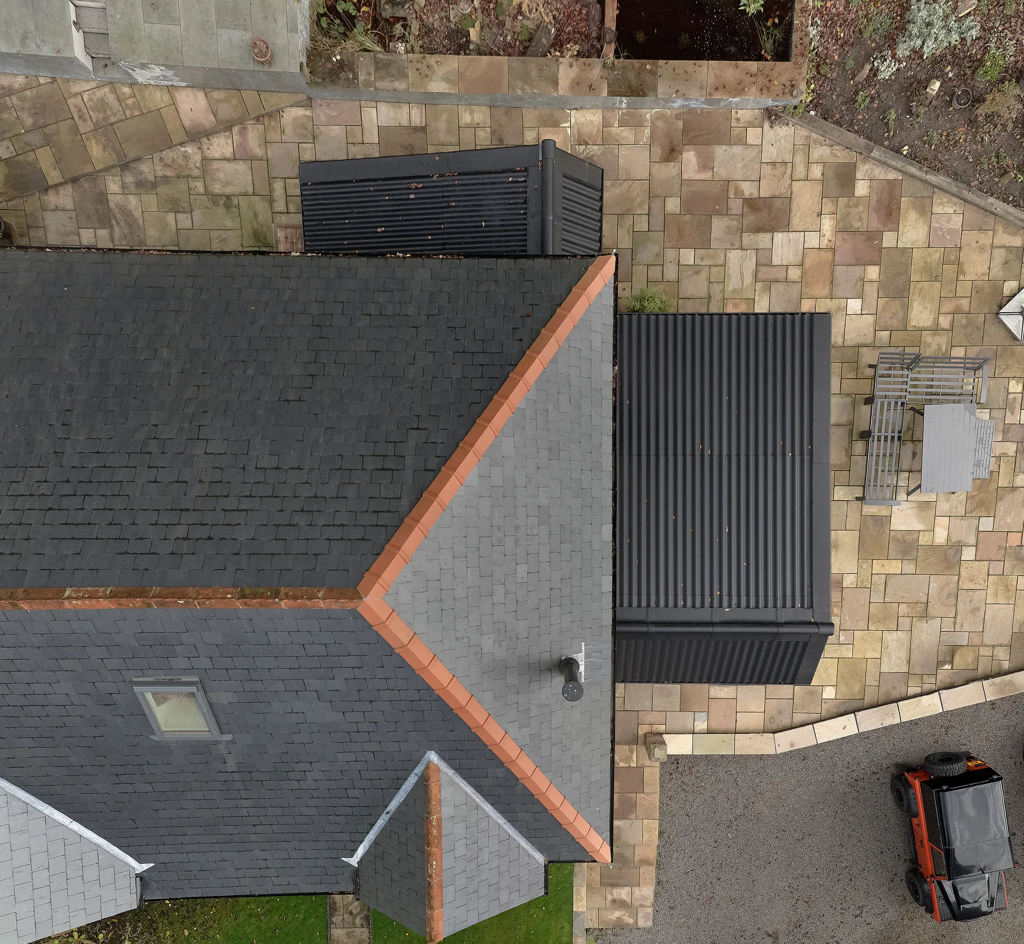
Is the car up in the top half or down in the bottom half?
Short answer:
bottom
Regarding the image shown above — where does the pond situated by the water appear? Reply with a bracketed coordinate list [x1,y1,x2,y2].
[615,0,791,62]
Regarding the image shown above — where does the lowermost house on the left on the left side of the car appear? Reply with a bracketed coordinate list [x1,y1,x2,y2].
[0,242,622,944]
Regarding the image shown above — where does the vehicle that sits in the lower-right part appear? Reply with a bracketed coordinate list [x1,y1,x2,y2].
[888,740,1024,924]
